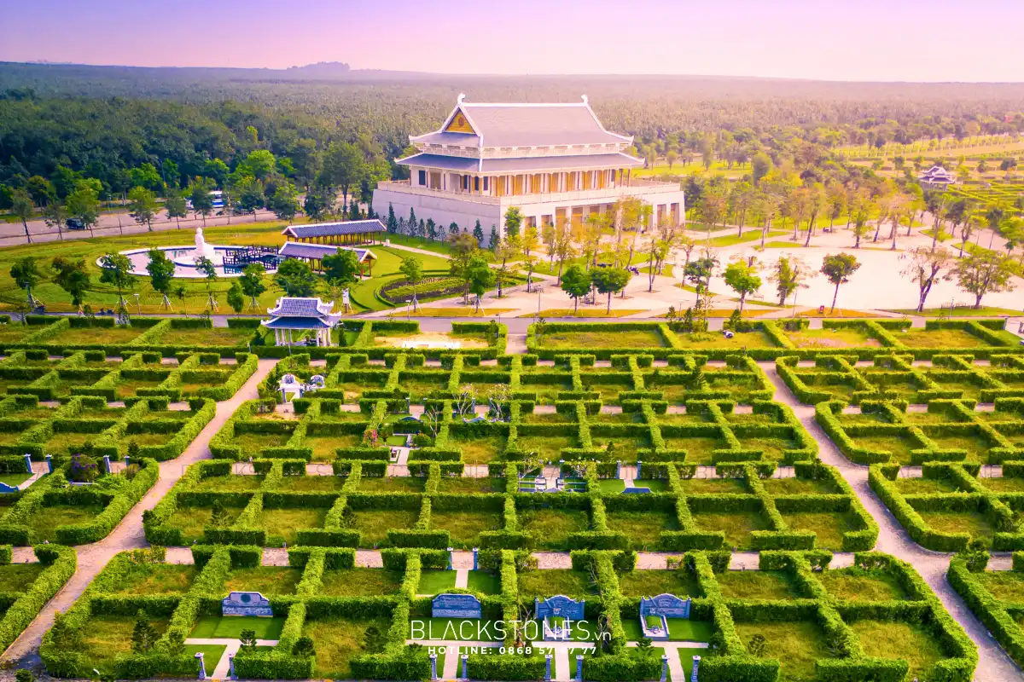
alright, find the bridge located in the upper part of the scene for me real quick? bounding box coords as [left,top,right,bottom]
[229,245,314,267]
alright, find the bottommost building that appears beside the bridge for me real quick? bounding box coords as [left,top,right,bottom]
[259,292,343,349]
